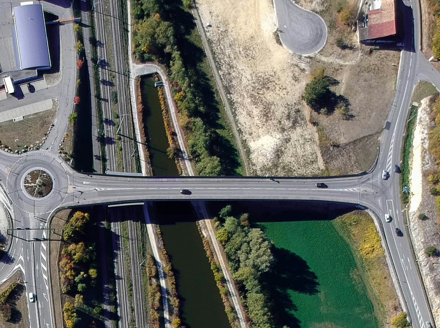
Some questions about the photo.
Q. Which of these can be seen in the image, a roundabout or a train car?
roundabout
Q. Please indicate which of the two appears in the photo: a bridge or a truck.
bridge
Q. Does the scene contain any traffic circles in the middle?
No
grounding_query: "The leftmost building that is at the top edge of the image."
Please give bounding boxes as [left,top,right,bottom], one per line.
[11,2,53,75]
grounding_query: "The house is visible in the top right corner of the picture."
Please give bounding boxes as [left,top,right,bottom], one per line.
[353,0,395,47]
